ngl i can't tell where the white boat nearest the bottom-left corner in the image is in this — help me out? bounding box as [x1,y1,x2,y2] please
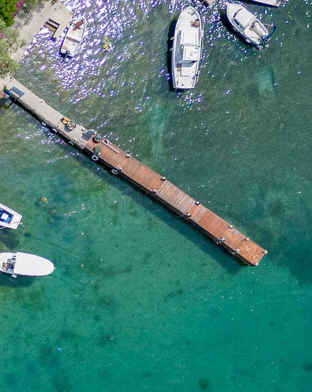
[0,249,60,277]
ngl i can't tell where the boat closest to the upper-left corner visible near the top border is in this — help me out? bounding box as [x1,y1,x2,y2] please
[59,16,87,65]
